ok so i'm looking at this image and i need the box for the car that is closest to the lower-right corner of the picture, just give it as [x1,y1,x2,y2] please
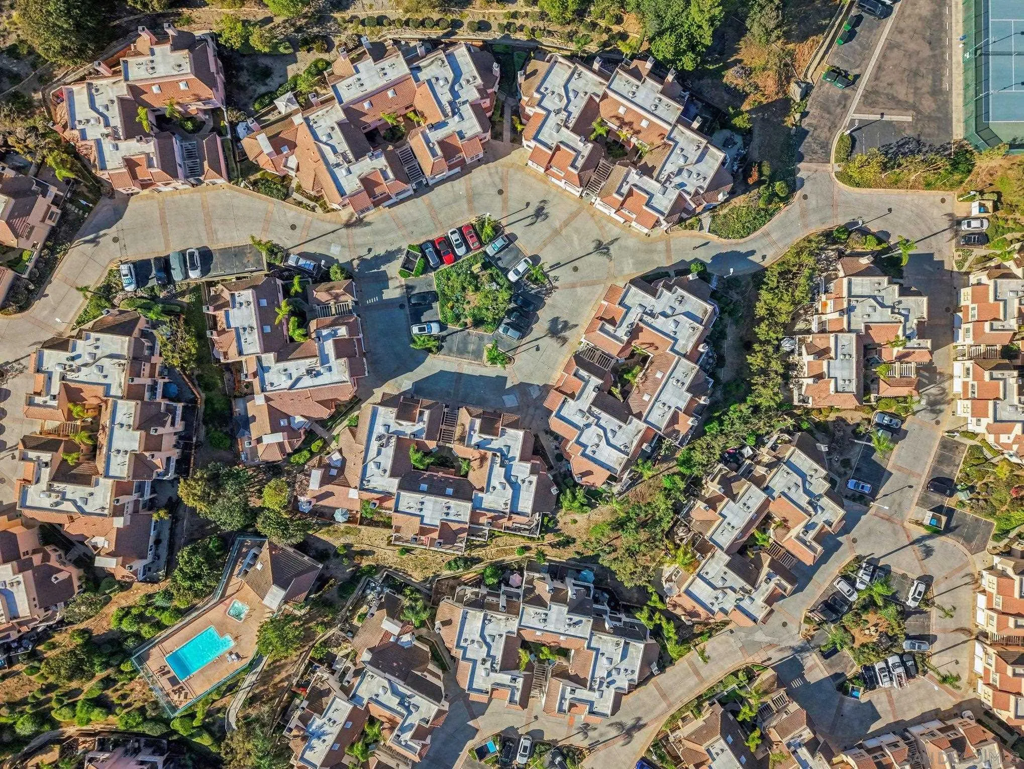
[955,700,979,726]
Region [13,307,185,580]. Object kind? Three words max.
building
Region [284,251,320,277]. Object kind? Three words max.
truck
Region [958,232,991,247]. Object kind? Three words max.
car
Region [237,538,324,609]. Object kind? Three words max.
building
